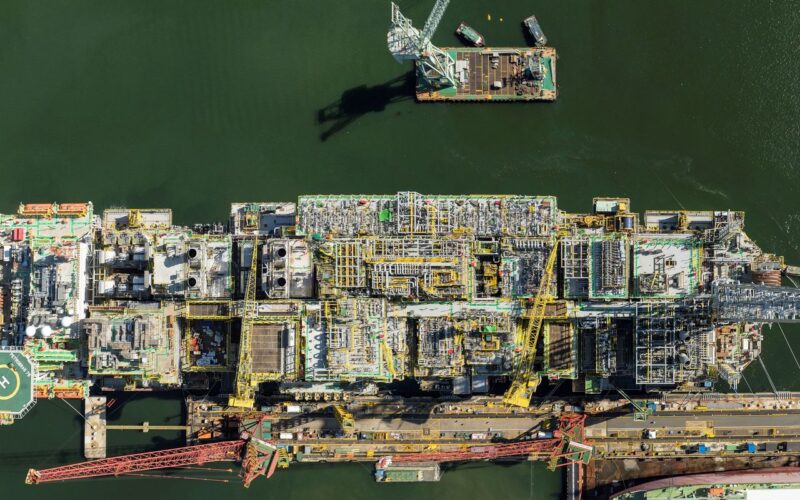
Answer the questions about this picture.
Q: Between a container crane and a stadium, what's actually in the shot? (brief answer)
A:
container crane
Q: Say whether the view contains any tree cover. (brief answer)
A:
No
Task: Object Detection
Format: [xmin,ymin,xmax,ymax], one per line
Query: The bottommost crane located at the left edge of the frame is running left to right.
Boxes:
[21,415,282,490]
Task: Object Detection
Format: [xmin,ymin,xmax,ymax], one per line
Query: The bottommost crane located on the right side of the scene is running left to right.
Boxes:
[383,404,601,500]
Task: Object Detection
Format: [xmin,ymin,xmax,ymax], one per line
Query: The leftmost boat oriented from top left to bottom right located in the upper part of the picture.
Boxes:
[455,22,484,47]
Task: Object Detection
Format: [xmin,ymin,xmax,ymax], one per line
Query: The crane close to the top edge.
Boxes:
[389,0,457,95]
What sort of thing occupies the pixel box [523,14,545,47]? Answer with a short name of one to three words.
boat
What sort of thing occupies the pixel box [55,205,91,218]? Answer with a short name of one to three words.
boat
